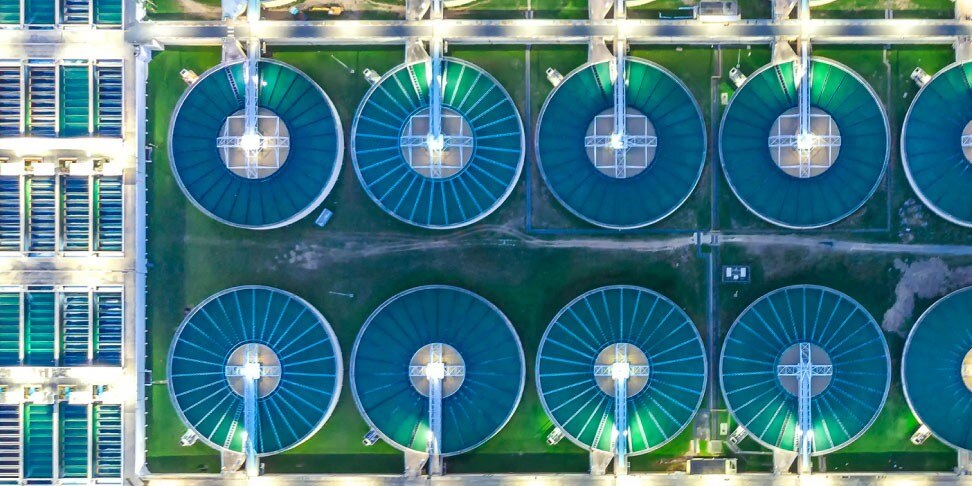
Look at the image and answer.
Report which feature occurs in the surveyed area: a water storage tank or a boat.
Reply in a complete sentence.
This aerial view contains a water storage tank.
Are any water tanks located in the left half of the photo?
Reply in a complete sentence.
Yes, you'll find a water tank in the left half of the photo.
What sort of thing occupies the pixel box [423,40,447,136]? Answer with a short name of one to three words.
bridge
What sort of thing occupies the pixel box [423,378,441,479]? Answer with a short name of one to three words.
bridge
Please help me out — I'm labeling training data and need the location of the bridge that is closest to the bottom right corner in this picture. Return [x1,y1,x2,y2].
[802,378,828,480]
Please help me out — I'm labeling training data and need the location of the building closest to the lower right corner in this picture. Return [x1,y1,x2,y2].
[686,457,737,474]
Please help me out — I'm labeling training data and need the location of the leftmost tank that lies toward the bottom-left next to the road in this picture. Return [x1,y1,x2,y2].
[166,285,342,480]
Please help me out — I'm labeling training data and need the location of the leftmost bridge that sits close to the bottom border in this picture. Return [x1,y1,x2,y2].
[234,378,257,480]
